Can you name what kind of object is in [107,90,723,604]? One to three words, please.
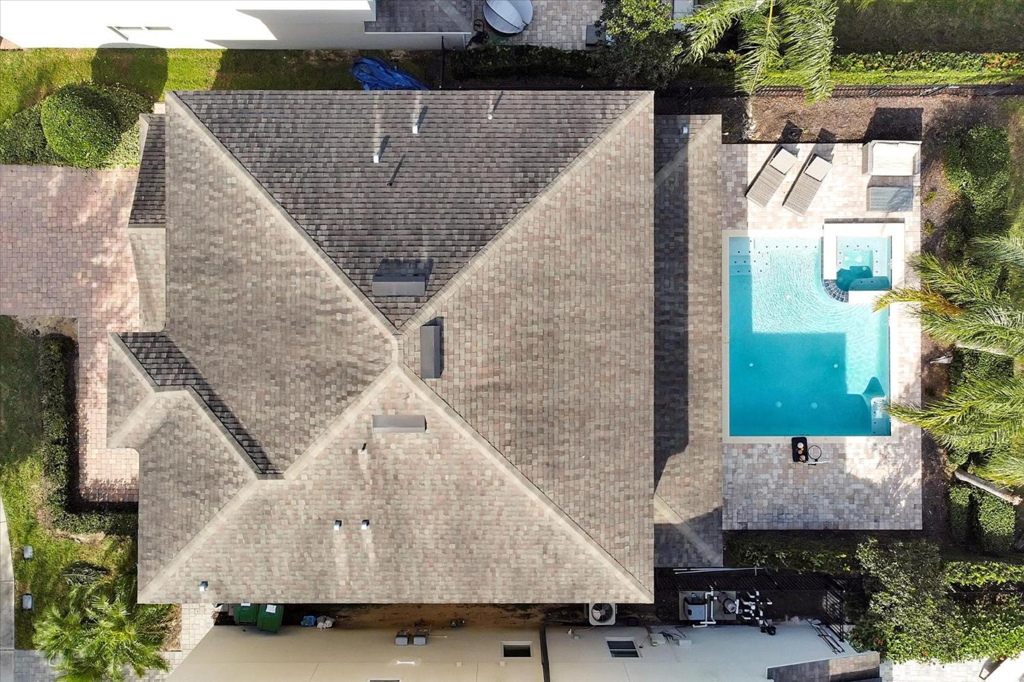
house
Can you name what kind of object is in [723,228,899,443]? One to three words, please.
swimming pool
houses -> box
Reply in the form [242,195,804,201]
[157,621,888,682]
[107,90,723,604]
[0,0,474,49]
